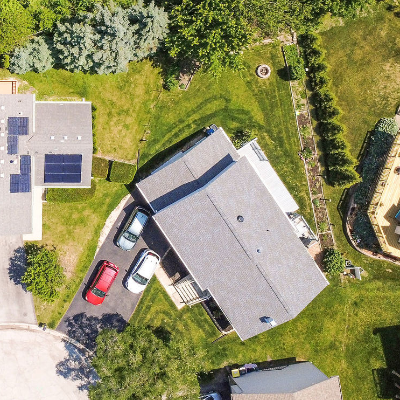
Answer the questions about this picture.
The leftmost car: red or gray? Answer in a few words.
red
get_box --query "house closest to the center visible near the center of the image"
[135,126,329,342]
